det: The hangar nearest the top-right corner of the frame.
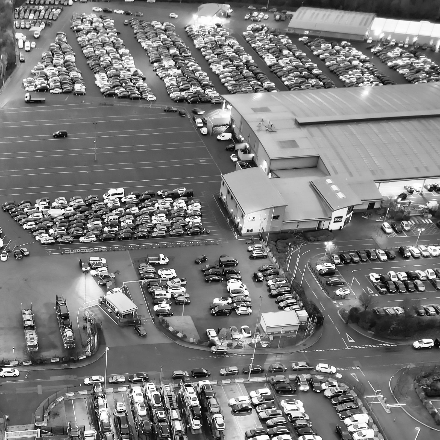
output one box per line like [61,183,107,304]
[289,2,371,40]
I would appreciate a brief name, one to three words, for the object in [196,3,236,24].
shed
